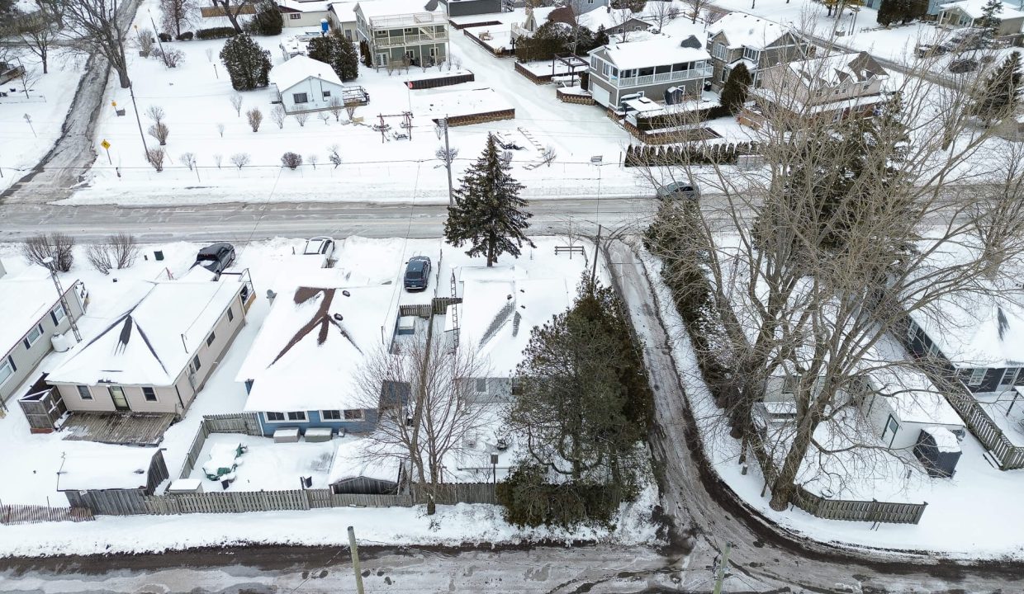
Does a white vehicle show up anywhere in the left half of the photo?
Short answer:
Yes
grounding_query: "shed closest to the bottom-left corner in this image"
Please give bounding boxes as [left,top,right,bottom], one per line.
[53,446,167,511]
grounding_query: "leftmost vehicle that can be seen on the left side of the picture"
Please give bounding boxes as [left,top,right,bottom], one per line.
[189,237,239,273]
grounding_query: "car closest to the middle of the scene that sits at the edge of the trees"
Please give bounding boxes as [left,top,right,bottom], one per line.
[403,254,434,287]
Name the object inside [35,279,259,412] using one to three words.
house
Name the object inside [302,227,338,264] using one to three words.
car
